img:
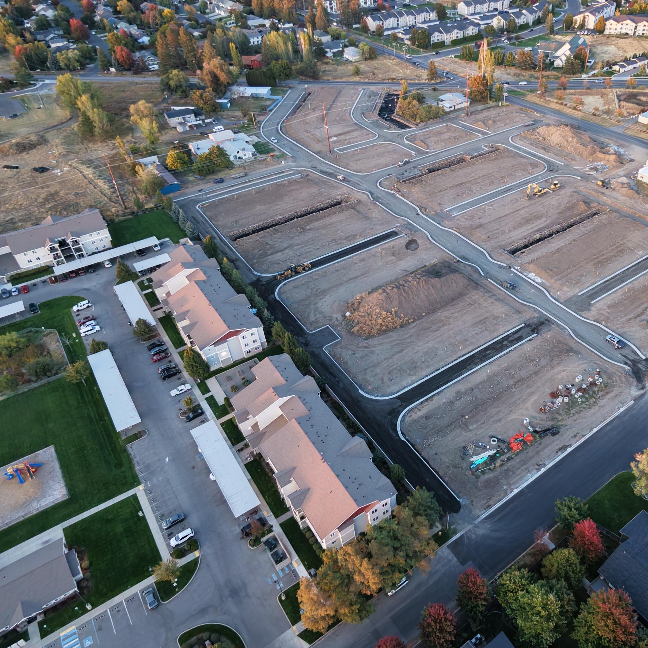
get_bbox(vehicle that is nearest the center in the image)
[277,262,311,278]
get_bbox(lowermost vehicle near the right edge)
[605,334,627,347]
